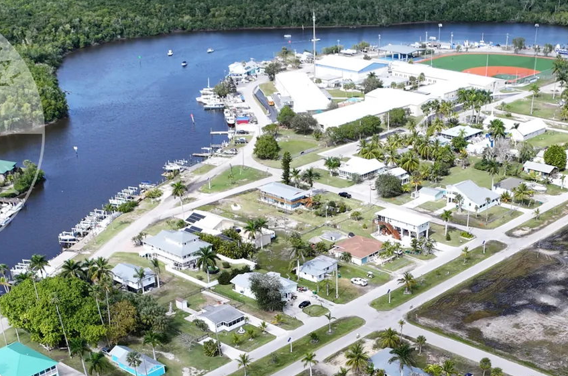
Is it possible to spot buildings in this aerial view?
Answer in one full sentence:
Yes, a building appears in the view.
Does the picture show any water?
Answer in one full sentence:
Yes, water can be seen from above here.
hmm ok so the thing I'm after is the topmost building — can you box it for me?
[378,46,424,65]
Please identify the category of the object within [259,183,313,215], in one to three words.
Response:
house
